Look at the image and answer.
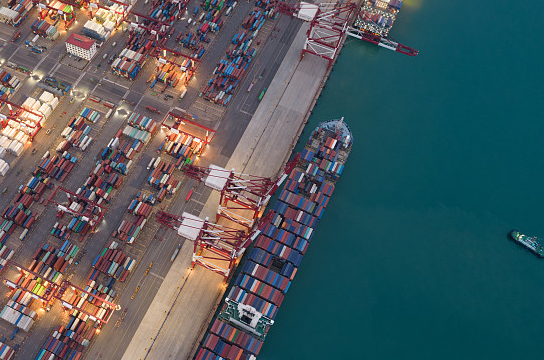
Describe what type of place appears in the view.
port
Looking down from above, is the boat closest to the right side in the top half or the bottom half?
bottom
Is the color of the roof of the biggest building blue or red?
red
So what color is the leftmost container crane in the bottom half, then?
red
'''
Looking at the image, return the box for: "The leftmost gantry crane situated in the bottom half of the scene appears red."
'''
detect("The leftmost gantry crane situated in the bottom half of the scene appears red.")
[0,259,59,309]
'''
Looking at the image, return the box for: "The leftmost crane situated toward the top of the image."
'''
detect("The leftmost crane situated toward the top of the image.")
[0,98,48,142]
